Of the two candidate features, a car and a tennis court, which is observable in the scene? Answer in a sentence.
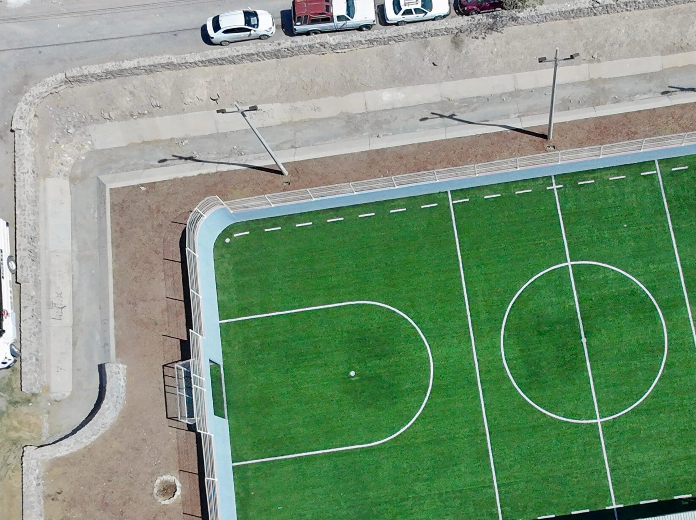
The image shows a car.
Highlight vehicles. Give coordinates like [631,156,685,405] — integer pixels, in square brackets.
[205,4,276,47]
[461,0,529,15]
[0,217,19,376]
[293,0,384,36]
[384,0,452,23]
